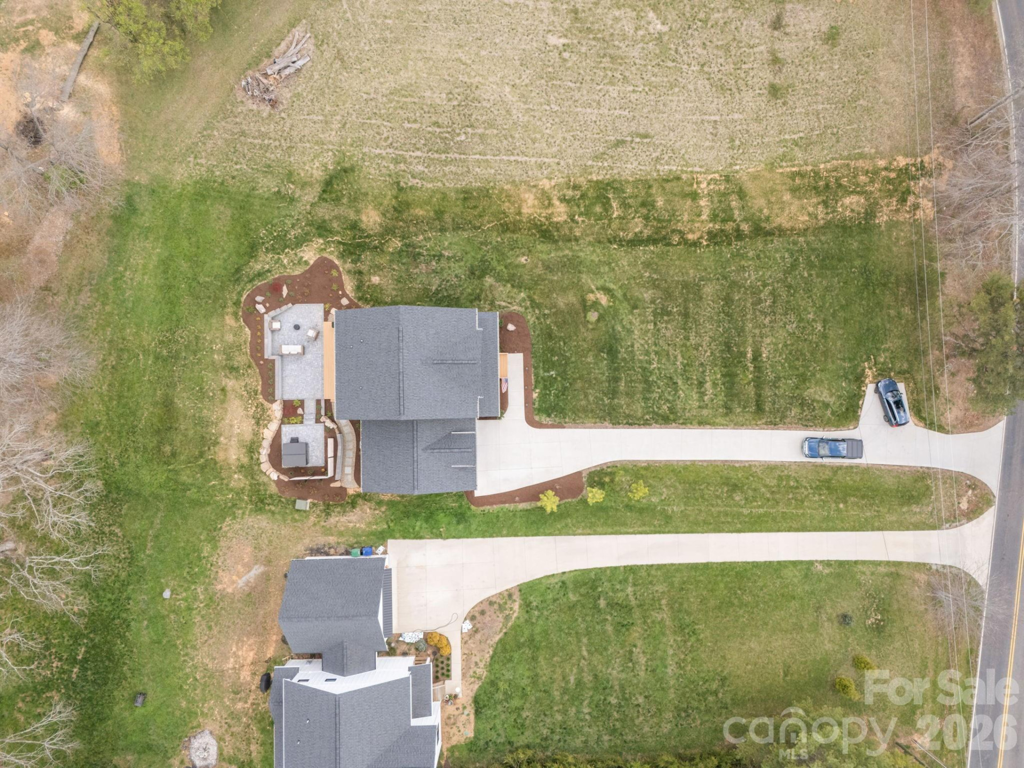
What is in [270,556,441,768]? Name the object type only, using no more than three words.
house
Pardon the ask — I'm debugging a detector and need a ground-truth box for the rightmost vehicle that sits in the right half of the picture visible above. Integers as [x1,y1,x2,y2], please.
[876,378,912,430]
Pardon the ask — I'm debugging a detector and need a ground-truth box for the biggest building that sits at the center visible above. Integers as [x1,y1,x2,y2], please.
[333,306,501,494]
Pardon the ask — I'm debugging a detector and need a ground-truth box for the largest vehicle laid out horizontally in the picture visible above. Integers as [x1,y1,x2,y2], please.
[800,436,862,462]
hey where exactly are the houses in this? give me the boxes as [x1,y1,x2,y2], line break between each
[270,556,441,768]
[333,306,501,494]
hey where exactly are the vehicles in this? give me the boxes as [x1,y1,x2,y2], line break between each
[800,436,862,462]
[876,378,912,430]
